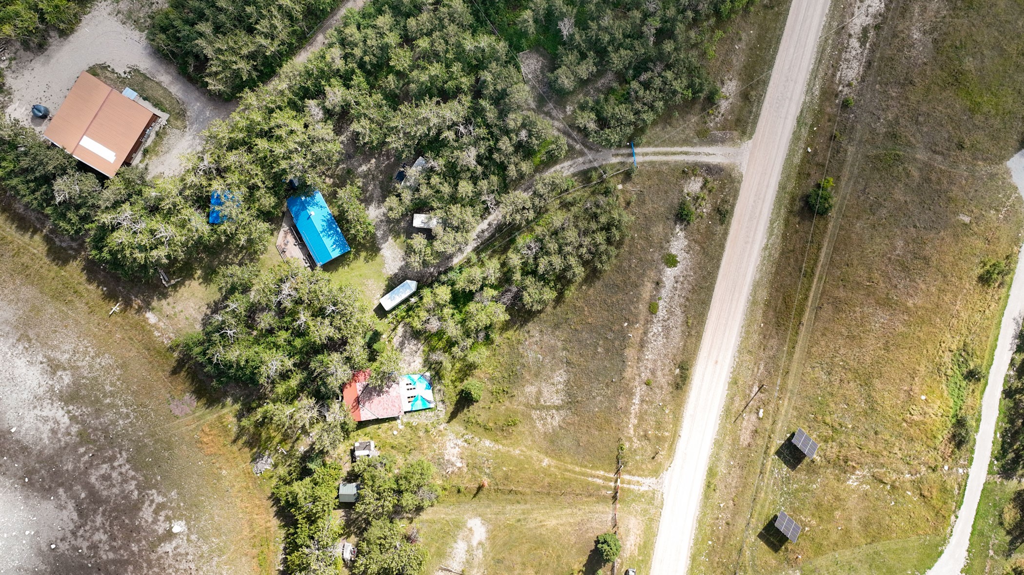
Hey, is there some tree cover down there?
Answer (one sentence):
Yes, some tree cover is visible.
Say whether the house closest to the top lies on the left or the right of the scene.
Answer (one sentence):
The house closest to the top sits on the left side.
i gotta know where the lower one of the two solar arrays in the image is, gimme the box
[774,511,801,543]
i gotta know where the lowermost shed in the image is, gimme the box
[339,481,361,502]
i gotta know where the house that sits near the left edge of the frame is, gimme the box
[44,70,161,171]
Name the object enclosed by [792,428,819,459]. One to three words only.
solar array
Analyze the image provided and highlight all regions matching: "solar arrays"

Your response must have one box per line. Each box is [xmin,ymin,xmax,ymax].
[774,511,801,543]
[792,428,819,459]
